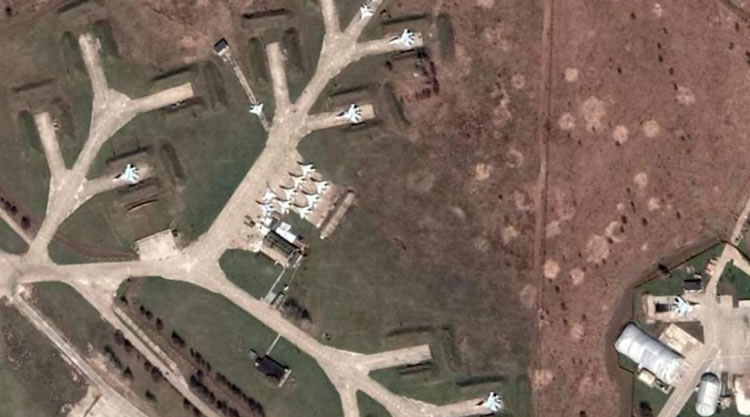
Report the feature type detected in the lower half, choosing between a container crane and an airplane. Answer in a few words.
airplane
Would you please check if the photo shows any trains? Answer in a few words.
No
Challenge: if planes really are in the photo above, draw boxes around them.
[474,392,502,410]
[262,185,277,205]
[113,164,139,183]
[334,104,363,123]
[275,199,294,213]
[672,298,700,317]
[304,192,323,207]
[255,202,275,215]
[289,174,308,188]
[294,204,314,218]
[249,99,263,119]
[312,180,332,194]
[297,165,317,179]
[279,186,298,200]
[387,30,415,49]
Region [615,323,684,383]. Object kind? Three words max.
hangar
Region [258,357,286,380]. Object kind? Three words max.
house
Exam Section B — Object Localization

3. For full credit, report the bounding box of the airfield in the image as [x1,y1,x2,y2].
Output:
[0,0,498,417]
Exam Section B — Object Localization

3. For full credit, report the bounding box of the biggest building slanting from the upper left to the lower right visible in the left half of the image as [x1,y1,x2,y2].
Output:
[264,228,299,259]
